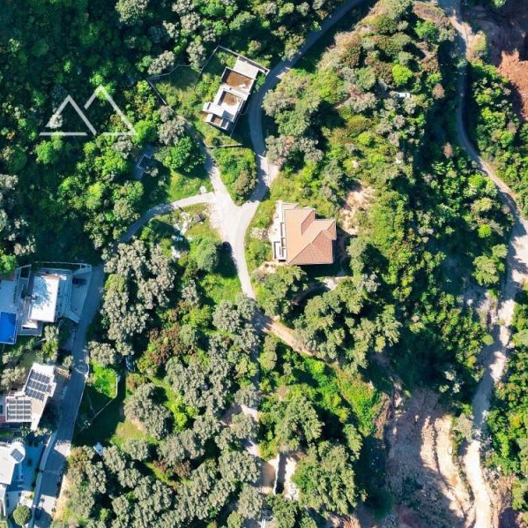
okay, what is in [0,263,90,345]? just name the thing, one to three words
house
